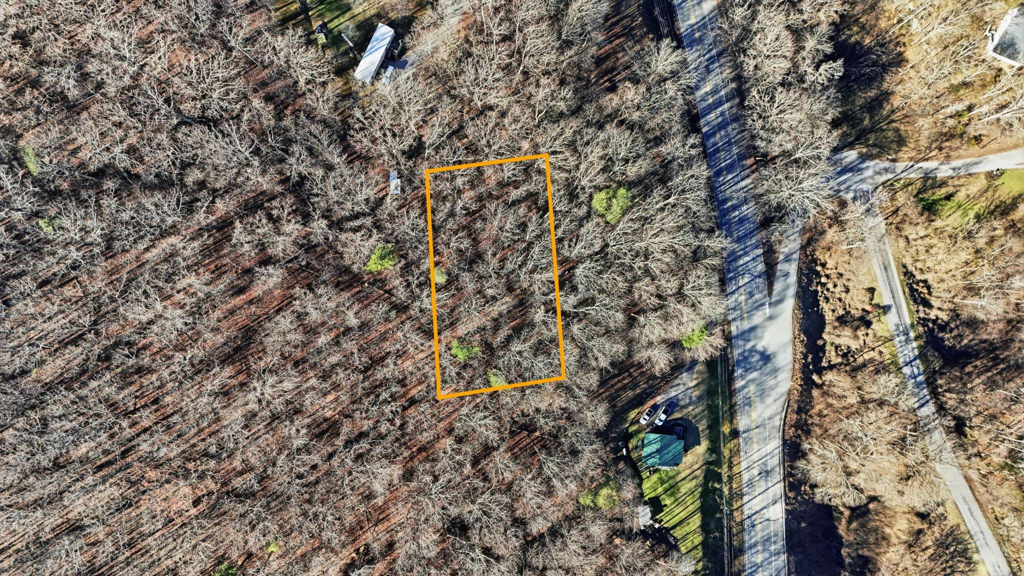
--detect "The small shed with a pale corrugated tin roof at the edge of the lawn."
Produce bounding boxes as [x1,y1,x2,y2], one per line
[637,503,653,529]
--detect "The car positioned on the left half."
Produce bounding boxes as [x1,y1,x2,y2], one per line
[383,65,396,85]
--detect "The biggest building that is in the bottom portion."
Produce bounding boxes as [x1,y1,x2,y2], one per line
[642,431,684,468]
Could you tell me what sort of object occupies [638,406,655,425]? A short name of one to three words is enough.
vehicle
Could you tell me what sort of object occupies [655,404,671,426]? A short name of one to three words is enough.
vehicle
